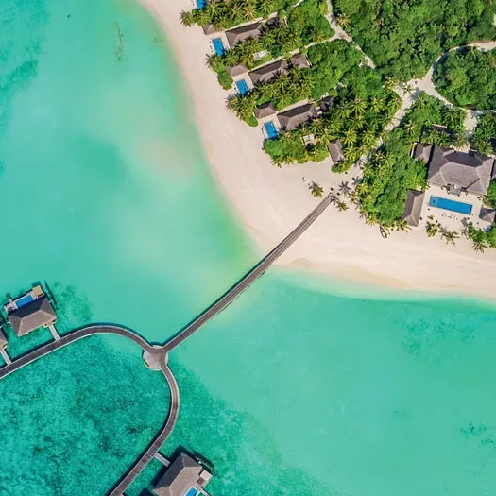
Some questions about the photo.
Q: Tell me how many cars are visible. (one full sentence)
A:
No cars are visible.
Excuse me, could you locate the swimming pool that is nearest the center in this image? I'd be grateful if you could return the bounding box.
[264,121,278,140]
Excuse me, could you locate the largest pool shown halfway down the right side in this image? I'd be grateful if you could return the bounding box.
[427,195,473,216]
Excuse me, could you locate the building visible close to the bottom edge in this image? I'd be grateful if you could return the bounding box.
[152,452,210,496]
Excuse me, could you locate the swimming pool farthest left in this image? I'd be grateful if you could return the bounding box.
[14,296,35,311]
